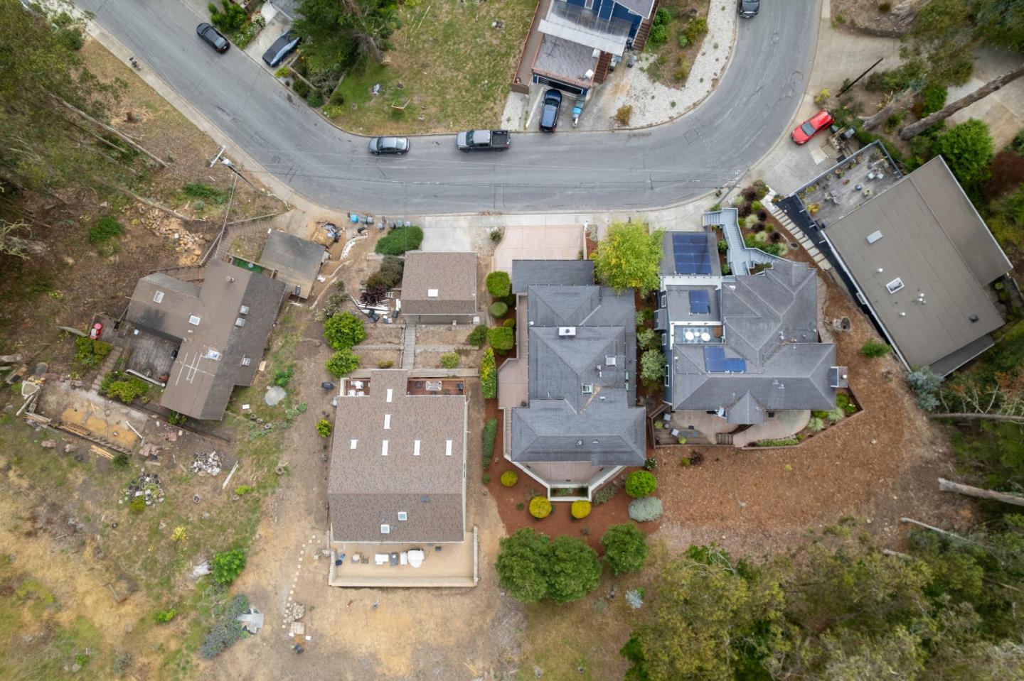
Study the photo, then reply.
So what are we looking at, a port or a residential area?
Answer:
residential area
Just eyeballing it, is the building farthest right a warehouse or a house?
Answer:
house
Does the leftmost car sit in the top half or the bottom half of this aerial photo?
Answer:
top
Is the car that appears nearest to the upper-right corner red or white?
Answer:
red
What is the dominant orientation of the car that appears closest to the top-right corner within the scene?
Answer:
on a diagonal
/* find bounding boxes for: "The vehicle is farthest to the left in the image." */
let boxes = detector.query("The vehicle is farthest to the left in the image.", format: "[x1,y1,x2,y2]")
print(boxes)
[192,18,230,54]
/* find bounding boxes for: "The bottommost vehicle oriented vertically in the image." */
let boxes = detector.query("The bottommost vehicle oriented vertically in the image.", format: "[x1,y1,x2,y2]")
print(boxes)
[542,87,562,131]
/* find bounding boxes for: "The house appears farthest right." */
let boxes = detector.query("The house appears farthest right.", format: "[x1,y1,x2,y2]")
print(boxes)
[783,139,1015,378]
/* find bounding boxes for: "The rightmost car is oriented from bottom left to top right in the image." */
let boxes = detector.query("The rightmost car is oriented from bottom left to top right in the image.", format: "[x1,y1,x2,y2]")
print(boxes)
[794,108,836,142]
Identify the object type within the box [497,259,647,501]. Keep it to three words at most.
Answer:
house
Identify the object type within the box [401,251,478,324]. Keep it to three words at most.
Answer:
building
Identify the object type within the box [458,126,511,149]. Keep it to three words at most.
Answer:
truck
